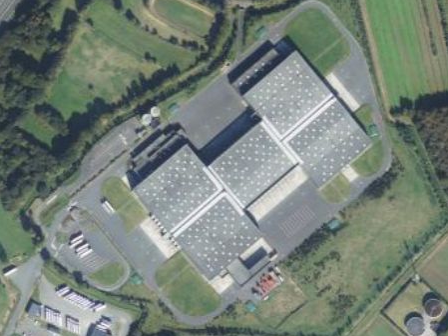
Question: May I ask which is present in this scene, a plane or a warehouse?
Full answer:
The one in the frame is a warehouse.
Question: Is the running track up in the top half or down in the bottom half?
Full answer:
The running track sits in the top half of the picture.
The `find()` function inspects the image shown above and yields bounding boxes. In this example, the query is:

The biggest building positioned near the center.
[133,51,372,281]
